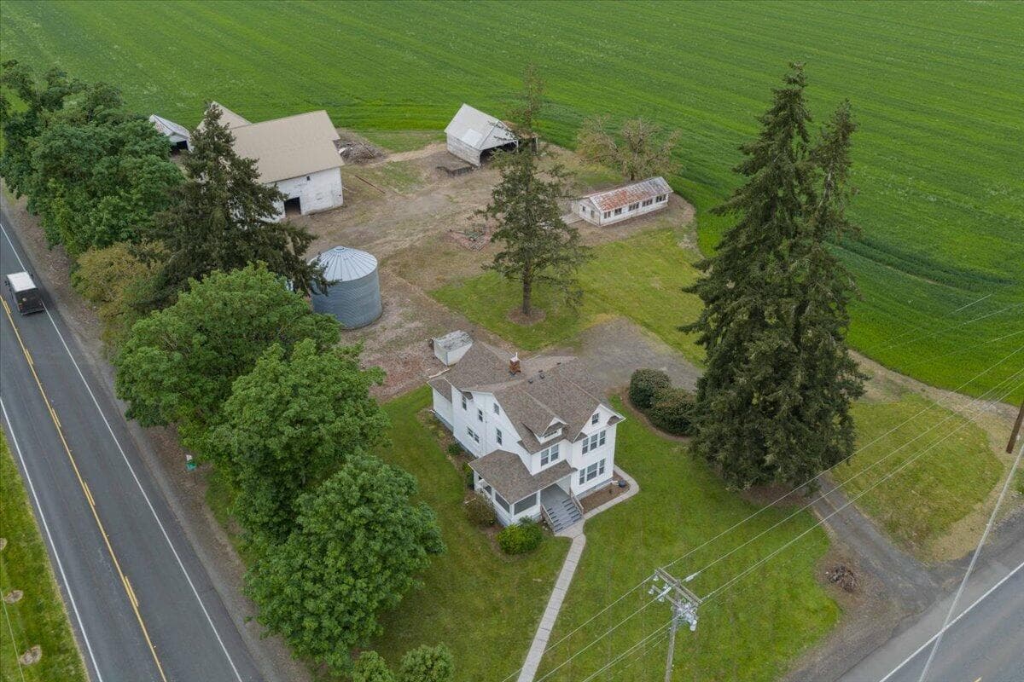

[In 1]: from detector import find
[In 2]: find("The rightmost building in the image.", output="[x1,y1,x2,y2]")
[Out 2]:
[568,177,675,225]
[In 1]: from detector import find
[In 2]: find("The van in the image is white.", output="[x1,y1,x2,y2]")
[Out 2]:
[4,271,43,312]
